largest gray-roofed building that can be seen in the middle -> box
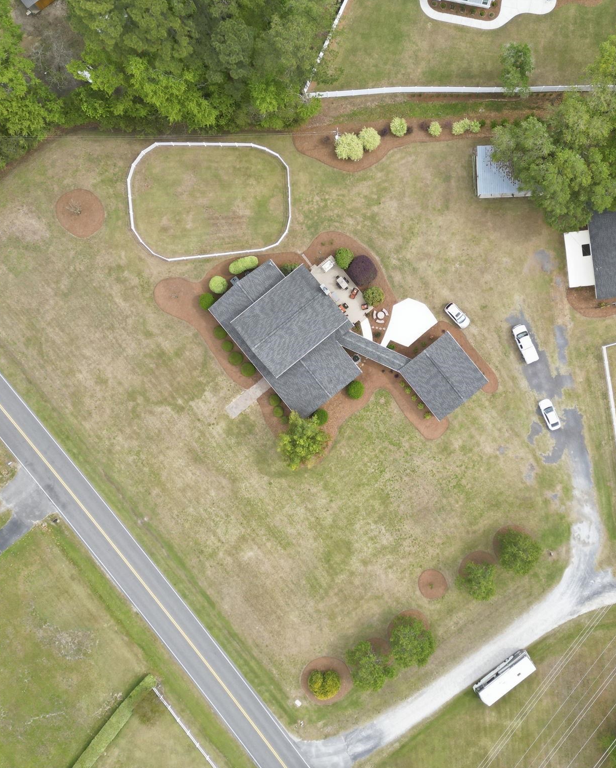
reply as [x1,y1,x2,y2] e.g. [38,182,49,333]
[209,260,362,418]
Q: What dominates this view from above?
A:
grass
